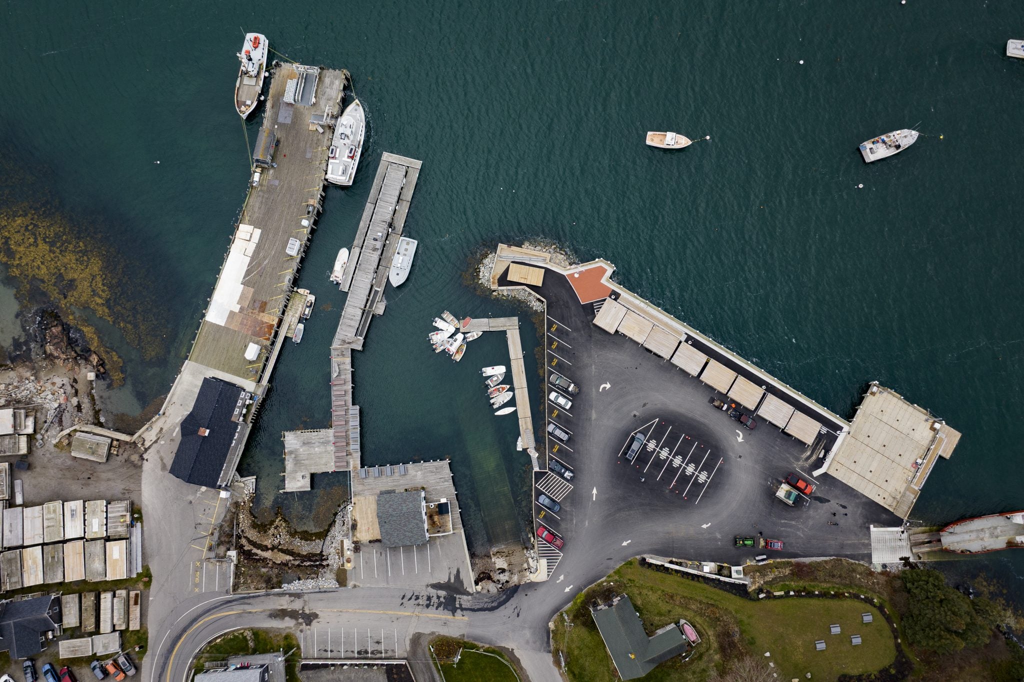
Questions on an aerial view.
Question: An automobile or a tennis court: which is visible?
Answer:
automobile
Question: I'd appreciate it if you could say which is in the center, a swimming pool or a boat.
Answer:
boat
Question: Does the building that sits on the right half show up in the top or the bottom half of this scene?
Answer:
bottom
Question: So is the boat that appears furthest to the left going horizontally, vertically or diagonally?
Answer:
vertically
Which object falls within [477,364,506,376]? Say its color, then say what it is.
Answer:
white boat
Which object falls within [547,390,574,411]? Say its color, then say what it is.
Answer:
white car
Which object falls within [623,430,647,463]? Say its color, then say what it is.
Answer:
gray vehicle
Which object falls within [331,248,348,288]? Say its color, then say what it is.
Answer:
white boat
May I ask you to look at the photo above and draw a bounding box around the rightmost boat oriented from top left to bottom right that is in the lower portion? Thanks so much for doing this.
[680,618,700,646]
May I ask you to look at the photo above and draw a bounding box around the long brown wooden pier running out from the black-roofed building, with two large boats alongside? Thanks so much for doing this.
[188,60,351,381]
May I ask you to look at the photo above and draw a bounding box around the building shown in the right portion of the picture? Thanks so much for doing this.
[588,593,688,681]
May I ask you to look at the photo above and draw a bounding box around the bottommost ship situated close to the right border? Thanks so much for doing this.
[934,509,1024,556]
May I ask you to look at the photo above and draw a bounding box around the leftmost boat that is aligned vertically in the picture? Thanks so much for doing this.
[230,25,267,118]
